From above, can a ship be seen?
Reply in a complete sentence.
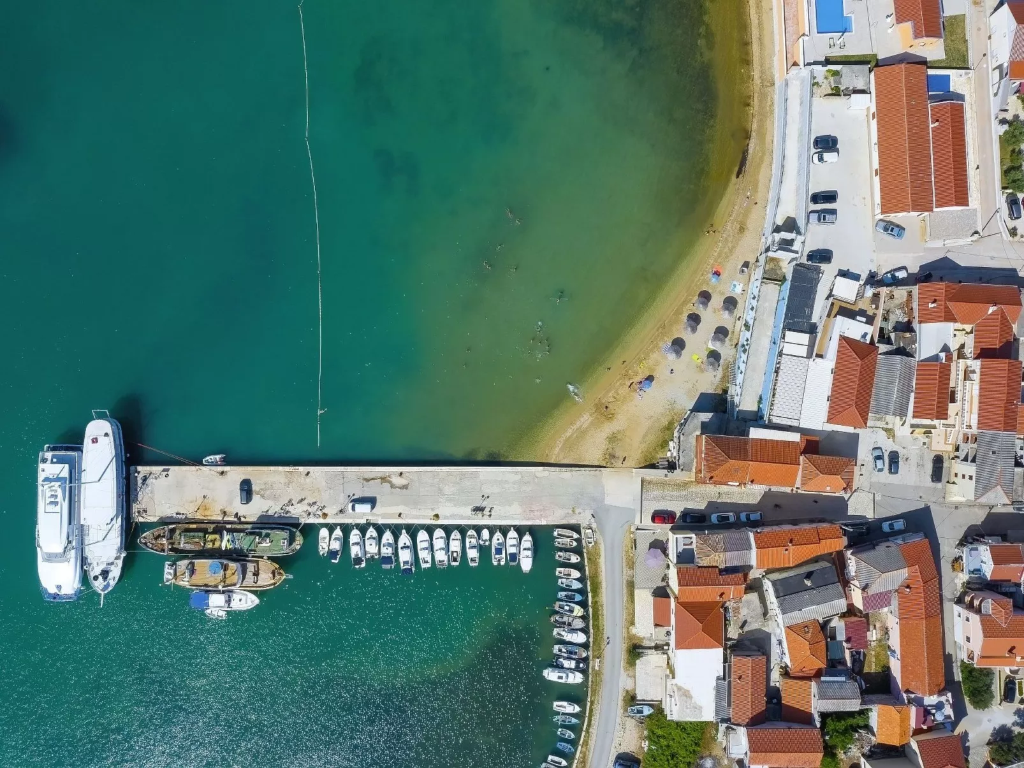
Yes, there is a ship in the image.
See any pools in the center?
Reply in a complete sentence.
No, I see no pool in the center.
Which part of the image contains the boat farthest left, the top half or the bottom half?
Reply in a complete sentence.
It is in the bottom half that the boat farthest left appears.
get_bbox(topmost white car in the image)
[813,152,838,165]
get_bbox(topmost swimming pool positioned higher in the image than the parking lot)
[814,0,857,36]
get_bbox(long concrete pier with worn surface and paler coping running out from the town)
[132,466,604,525]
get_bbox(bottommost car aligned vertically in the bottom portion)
[1004,677,1016,703]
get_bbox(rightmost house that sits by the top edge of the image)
[985,1,1024,88]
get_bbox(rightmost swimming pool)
[927,71,953,95]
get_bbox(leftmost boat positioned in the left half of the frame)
[34,441,84,602]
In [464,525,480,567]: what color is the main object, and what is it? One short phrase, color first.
white boat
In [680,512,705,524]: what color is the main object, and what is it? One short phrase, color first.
black vehicle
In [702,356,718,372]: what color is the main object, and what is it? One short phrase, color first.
gray umbrella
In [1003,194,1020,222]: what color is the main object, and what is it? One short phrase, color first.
gray car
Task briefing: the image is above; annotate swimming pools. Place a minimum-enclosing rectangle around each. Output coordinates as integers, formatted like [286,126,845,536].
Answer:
[814,0,857,36]
[927,71,953,95]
